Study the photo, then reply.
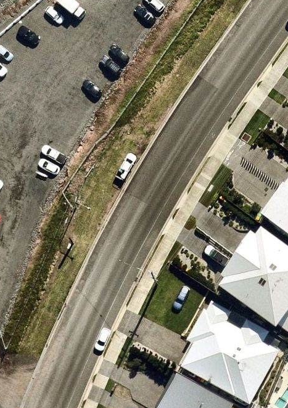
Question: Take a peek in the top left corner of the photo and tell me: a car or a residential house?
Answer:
car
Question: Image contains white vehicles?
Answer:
Yes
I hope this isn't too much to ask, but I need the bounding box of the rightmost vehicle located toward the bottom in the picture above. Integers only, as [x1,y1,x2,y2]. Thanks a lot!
[202,246,230,269]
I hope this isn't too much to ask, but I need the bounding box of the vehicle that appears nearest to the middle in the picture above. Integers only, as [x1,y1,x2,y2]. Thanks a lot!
[111,153,136,191]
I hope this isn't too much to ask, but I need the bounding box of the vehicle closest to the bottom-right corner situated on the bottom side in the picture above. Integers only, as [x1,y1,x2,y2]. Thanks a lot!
[172,285,190,311]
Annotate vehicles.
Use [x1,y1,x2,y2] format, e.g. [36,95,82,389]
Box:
[44,5,66,25]
[0,44,15,64]
[108,43,132,67]
[80,79,103,103]
[37,157,62,178]
[53,0,88,22]
[94,327,112,355]
[172,285,190,311]
[97,53,125,80]
[132,3,157,29]
[15,27,40,45]
[111,153,136,191]
[40,143,68,168]
[0,62,10,79]
[143,0,167,14]
[202,246,230,269]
